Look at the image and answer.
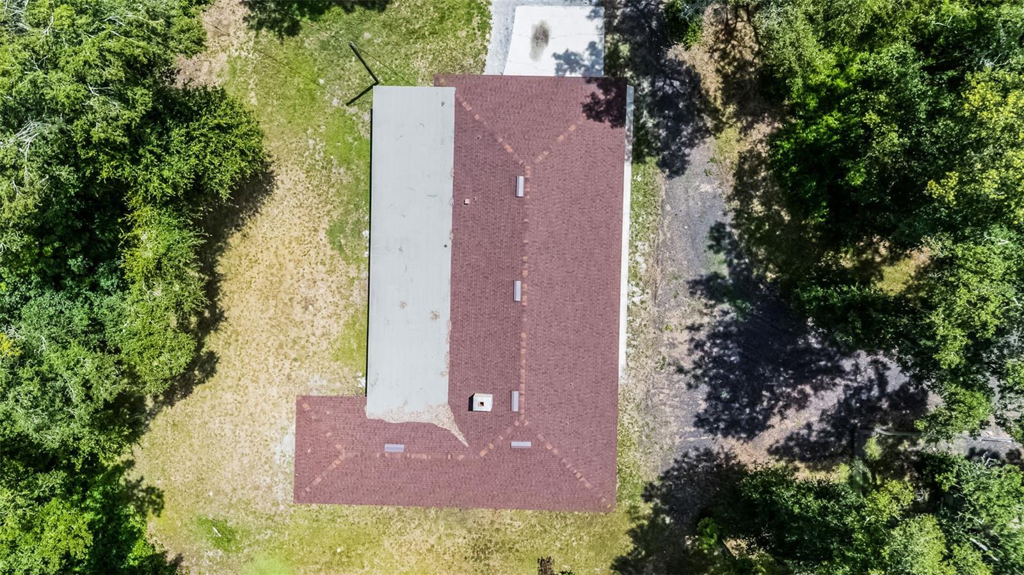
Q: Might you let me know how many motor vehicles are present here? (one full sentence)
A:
The photo contains no motor vehicles.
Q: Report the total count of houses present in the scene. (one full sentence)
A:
The photo contains exactly 1 house.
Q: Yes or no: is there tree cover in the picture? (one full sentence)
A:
Yes, there is tree cover in the image.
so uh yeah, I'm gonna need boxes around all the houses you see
[292,72,627,513]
